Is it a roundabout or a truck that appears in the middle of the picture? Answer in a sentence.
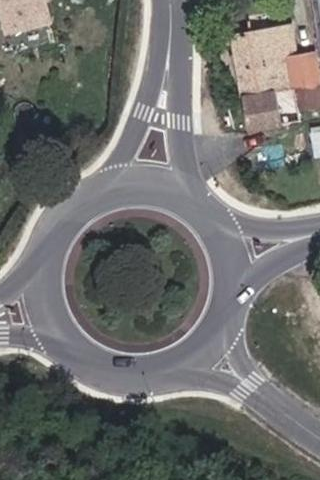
The feature located in the middle of the picture is a roundabout.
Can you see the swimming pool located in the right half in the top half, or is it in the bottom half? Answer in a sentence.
You can find the swimming pool located in the right half in the top half.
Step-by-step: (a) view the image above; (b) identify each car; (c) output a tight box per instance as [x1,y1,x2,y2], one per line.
[236,286,256,305]
[113,357,133,368]
[243,132,264,146]
[299,26,310,47]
